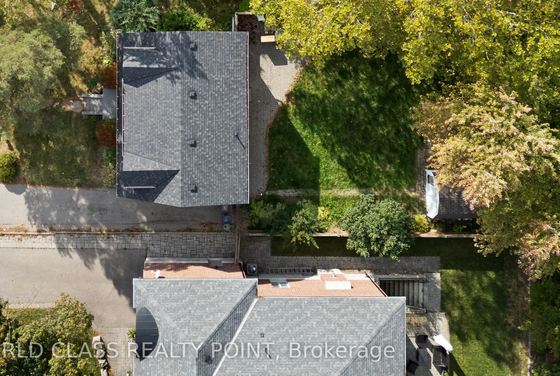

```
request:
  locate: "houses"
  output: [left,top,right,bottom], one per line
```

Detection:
[83,30,251,207]
[131,256,408,376]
